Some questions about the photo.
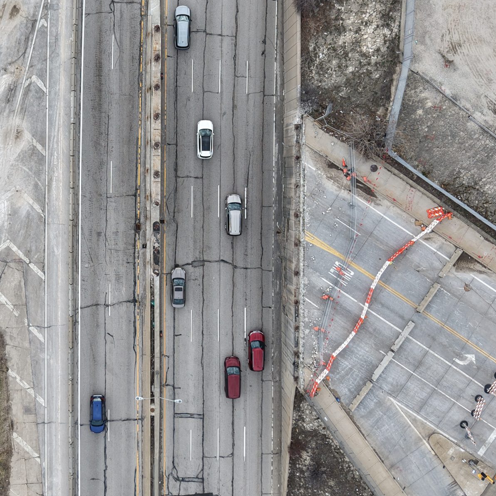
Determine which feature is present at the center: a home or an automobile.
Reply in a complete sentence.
The feature located at the center is an automobile.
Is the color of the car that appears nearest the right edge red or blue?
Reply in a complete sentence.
From above, the car that appears nearest the right edge appears red.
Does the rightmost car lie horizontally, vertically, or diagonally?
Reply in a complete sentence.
From this overhead view, the rightmost car appears to run vertically.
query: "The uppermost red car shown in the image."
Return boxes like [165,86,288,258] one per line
[247,331,267,372]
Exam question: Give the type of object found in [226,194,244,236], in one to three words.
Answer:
car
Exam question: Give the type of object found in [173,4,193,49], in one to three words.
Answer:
car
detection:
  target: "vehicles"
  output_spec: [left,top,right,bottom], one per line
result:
[169,268,188,308]
[226,194,244,236]
[87,395,105,434]
[247,331,267,372]
[195,120,215,159]
[173,4,193,49]
[224,358,242,400]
